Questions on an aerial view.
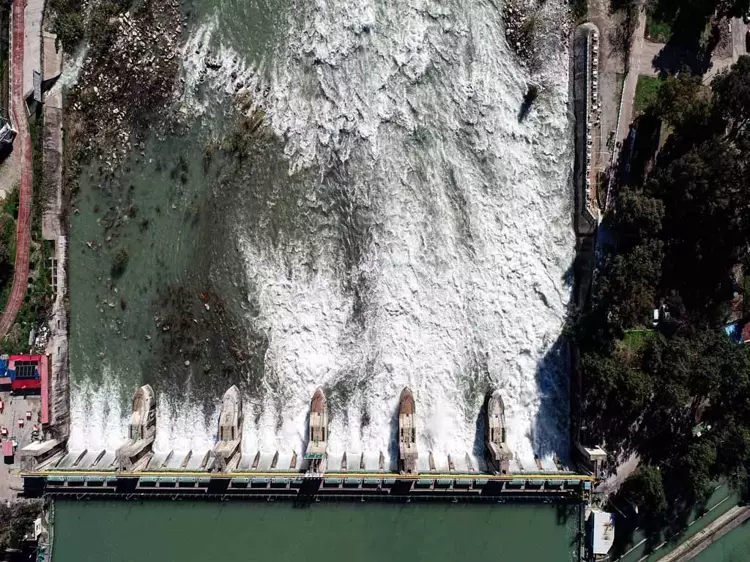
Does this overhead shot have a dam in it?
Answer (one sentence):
Yes, the image includes a dam.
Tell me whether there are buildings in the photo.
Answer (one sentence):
Yes, this view includes a building.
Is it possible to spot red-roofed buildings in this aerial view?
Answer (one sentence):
Yes, there is a red-roofed building in the image.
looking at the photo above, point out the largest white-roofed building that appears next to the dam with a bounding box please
[589,507,614,554]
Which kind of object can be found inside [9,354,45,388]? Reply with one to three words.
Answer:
building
